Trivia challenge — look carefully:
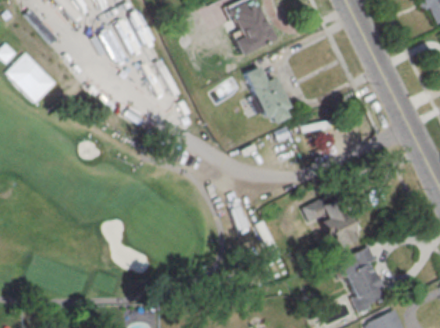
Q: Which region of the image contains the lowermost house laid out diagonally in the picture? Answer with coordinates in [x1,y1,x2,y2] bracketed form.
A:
[302,199,366,246]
